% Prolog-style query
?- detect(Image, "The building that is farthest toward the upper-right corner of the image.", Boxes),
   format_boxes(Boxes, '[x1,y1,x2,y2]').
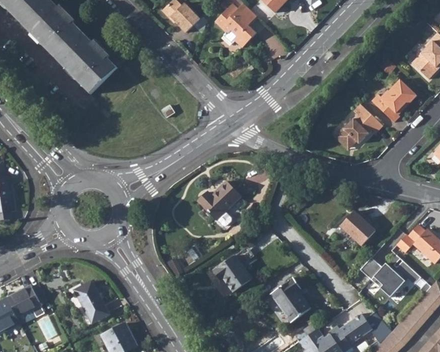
[412,33,440,81]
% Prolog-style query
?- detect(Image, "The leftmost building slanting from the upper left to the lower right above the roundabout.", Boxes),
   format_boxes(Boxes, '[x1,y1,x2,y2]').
[0,0,117,96]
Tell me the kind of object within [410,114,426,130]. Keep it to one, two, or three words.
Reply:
vehicle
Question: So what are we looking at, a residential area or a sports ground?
residential area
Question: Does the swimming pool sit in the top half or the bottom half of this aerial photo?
bottom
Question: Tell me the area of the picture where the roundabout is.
left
